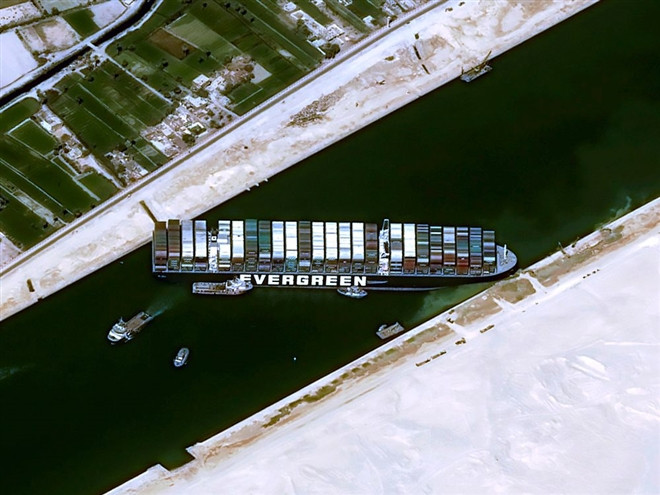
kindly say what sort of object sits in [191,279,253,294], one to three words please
boat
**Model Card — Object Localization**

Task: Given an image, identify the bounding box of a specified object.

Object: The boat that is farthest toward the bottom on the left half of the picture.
[173,346,191,366]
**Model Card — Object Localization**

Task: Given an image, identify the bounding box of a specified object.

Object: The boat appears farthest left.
[108,307,154,338]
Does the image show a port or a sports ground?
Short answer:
port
